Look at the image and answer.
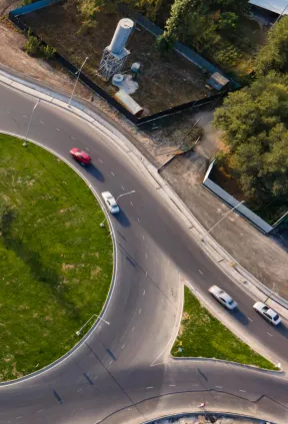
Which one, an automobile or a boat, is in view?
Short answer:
automobile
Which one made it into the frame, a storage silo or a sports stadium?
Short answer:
storage silo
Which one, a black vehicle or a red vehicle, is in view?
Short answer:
red vehicle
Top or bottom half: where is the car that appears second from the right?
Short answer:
bottom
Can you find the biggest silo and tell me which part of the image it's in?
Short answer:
top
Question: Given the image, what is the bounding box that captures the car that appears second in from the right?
[207,286,238,310]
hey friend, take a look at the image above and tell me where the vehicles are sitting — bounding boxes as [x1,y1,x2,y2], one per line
[68,148,92,167]
[251,302,283,325]
[207,286,238,310]
[101,192,121,214]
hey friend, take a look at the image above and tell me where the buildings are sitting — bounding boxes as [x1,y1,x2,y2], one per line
[240,0,288,33]
[205,71,230,94]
